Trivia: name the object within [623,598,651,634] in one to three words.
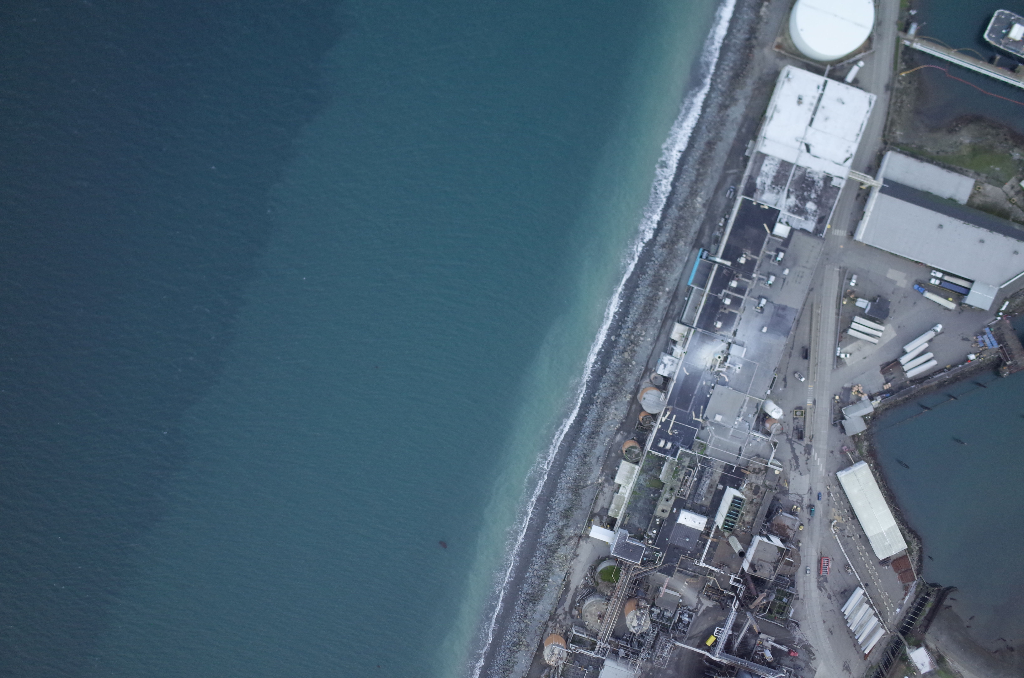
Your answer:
storage tank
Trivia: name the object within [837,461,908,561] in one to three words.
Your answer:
building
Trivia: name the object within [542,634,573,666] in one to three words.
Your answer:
storage tank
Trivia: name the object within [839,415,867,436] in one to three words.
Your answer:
shed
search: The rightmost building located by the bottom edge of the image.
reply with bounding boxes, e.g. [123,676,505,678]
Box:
[907,643,935,674]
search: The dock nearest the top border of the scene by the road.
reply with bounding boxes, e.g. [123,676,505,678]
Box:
[896,32,1024,91]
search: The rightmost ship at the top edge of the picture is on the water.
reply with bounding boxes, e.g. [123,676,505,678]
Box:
[983,9,1024,59]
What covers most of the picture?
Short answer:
water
